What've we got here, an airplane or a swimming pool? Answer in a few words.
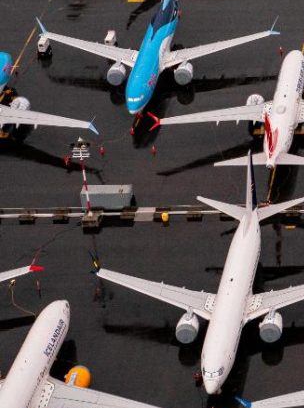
airplane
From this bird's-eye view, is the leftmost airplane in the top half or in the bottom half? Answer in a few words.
bottom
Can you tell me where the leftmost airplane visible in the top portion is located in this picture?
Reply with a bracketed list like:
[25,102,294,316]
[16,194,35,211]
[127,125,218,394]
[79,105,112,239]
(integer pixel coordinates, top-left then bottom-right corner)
[0,54,99,139]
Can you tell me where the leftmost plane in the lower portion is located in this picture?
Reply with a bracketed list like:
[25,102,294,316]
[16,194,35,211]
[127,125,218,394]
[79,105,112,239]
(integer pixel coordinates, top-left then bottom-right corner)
[0,248,46,284]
